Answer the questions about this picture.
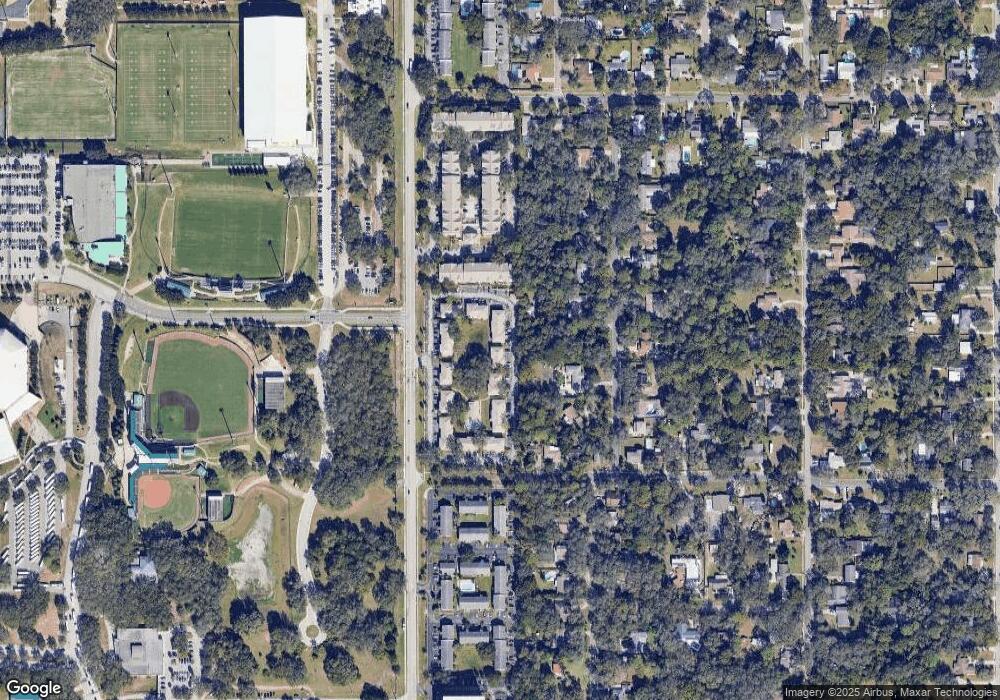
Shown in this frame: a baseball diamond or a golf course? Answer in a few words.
baseball diamond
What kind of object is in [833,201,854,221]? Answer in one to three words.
house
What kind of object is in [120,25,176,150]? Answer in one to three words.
sports field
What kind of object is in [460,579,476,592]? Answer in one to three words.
swimming pool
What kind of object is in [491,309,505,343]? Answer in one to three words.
building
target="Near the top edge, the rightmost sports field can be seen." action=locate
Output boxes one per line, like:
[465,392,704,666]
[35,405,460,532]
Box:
[179,25,235,150]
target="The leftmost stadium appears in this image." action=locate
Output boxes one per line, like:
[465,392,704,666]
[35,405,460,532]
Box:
[0,326,42,464]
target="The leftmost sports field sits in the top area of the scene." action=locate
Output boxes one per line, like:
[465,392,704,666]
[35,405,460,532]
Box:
[8,50,115,139]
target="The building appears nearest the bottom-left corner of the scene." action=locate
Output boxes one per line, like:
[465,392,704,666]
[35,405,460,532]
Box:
[114,629,163,675]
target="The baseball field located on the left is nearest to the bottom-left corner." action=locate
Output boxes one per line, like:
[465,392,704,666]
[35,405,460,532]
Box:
[136,474,200,532]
